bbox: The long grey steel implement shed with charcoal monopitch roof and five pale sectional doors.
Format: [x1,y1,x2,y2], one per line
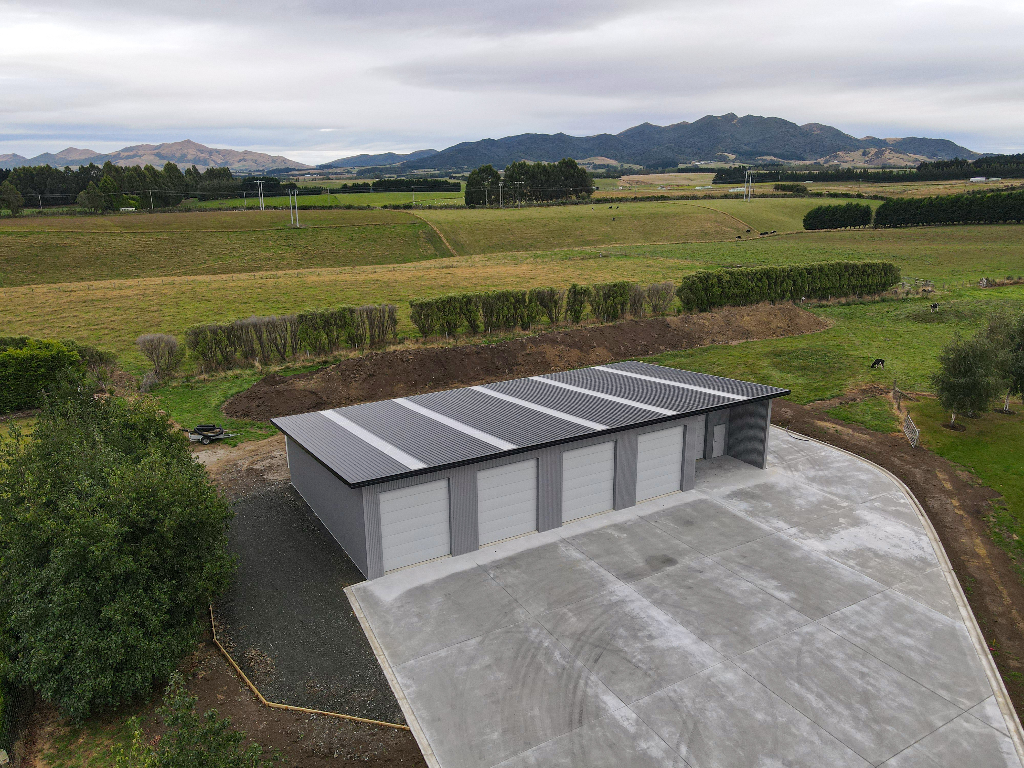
[270,360,792,581]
